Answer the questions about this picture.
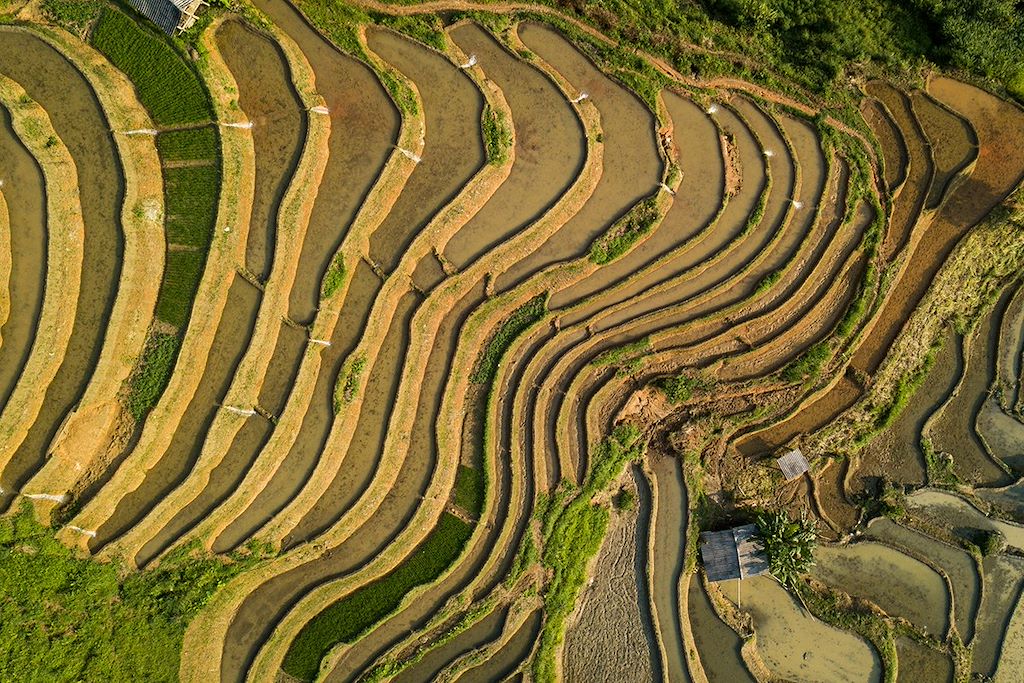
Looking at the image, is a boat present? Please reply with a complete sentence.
No, I can see no boat in this picture.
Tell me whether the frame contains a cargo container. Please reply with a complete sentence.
No, there's no cargo container here.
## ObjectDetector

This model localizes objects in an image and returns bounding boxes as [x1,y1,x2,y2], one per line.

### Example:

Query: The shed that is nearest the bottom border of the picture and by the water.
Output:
[698,524,768,582]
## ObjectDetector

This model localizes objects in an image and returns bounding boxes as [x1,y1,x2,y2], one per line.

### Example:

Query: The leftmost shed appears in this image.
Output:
[130,0,219,44]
